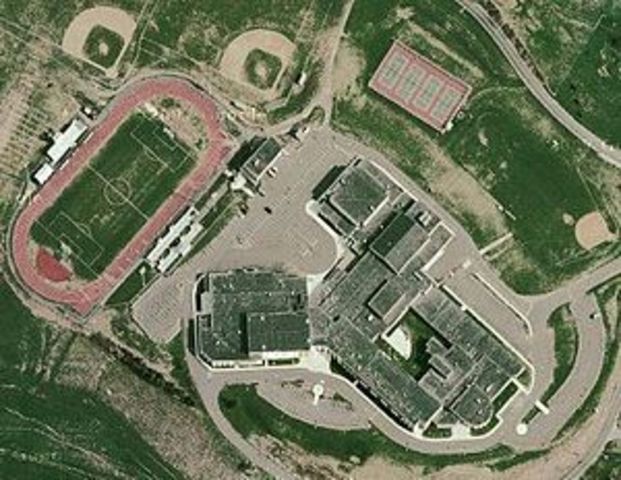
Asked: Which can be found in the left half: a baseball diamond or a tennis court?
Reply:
baseball diamond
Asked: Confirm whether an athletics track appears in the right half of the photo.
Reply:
No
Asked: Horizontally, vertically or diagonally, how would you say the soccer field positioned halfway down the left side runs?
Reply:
diagonally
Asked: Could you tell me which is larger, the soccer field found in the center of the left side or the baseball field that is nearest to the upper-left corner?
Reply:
the soccer field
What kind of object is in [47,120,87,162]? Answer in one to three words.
building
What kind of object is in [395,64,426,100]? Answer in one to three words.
tennis court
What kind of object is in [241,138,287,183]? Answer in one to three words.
building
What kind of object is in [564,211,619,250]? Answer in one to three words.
baseball field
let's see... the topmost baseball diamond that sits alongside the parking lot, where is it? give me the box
[221,30,297,103]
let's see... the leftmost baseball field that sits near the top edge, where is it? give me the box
[62,8,138,81]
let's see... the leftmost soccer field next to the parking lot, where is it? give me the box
[37,103,201,279]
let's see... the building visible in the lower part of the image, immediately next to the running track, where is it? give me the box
[193,157,525,434]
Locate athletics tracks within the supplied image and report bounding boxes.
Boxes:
[12,78,233,319]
